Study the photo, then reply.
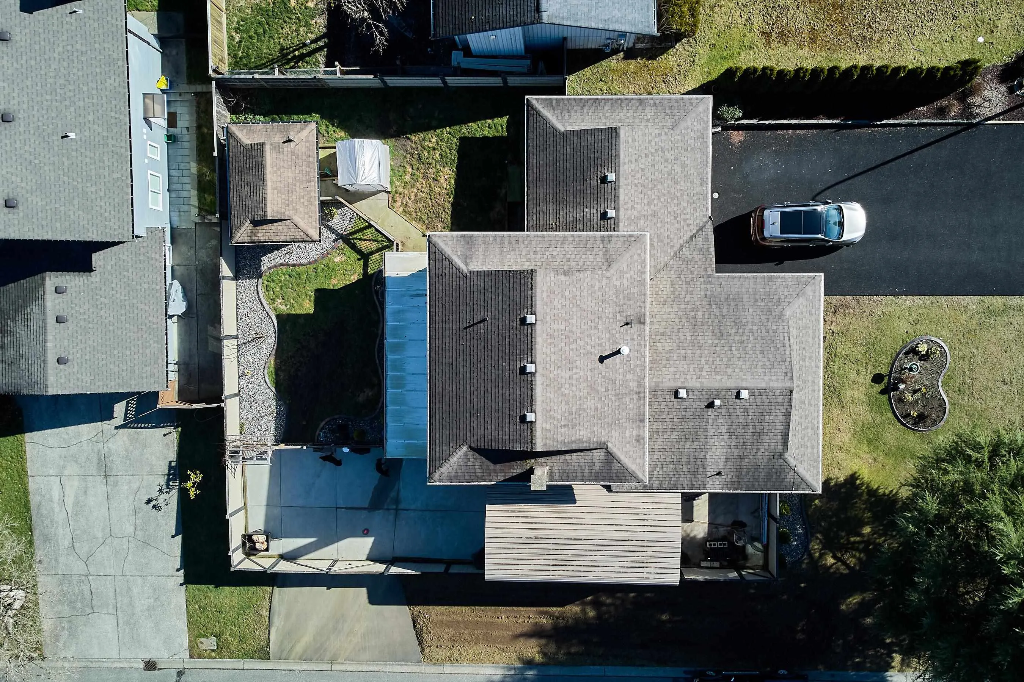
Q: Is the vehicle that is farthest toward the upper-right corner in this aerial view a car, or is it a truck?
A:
car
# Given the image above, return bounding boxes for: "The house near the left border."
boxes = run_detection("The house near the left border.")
[0,0,180,396]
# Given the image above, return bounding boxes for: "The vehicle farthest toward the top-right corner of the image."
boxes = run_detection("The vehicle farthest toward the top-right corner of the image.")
[749,197,866,250]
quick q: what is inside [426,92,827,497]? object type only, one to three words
house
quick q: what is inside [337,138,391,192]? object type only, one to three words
tent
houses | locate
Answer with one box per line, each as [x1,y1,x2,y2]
[426,92,827,497]
[0,0,180,396]
[428,0,659,58]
